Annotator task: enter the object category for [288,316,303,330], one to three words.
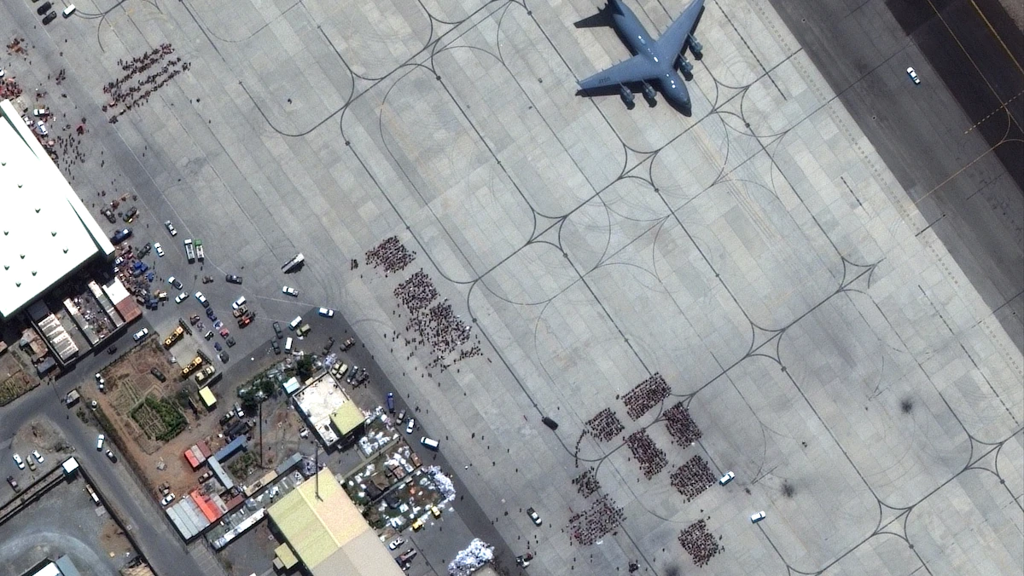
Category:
vehicle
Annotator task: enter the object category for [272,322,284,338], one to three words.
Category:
vehicle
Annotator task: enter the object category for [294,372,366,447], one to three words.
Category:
building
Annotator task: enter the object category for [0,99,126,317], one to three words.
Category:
hangar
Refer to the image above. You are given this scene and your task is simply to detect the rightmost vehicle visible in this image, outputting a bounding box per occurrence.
[907,67,921,84]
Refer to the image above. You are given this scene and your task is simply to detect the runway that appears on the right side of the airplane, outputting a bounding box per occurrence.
[889,0,1024,192]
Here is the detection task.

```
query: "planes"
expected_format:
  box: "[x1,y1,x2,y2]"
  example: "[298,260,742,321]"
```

[575,0,711,110]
